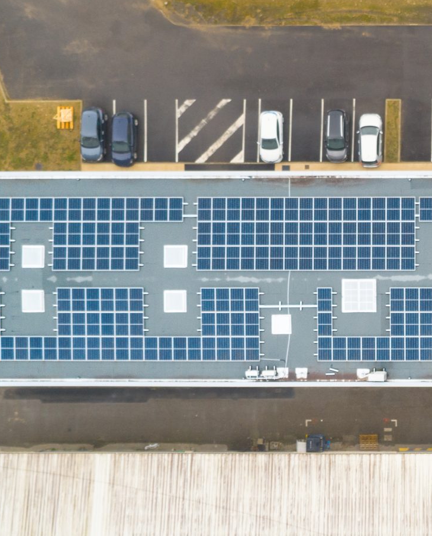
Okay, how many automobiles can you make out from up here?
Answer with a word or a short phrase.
five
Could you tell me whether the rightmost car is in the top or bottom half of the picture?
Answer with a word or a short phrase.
top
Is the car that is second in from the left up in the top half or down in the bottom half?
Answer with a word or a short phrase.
top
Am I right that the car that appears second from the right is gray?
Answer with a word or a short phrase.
Yes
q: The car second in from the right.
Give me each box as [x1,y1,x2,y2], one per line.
[322,108,350,164]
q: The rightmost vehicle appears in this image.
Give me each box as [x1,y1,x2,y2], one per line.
[355,112,382,168]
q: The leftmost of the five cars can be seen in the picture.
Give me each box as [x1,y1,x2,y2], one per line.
[77,106,109,162]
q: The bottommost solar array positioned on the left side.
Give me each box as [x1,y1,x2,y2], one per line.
[0,288,265,361]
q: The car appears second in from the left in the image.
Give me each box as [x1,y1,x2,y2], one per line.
[107,110,140,169]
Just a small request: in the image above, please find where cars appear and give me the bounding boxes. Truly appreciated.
[322,108,350,164]
[355,112,382,168]
[77,106,109,162]
[257,110,285,163]
[107,110,140,169]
